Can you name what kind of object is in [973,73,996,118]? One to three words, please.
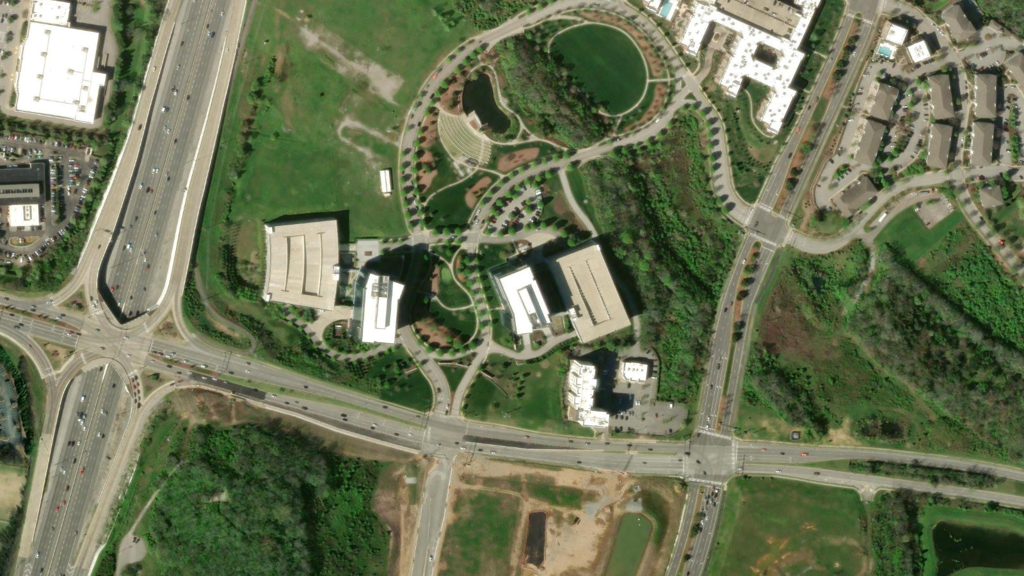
building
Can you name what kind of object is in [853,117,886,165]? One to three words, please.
building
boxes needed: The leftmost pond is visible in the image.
[462,74,510,133]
